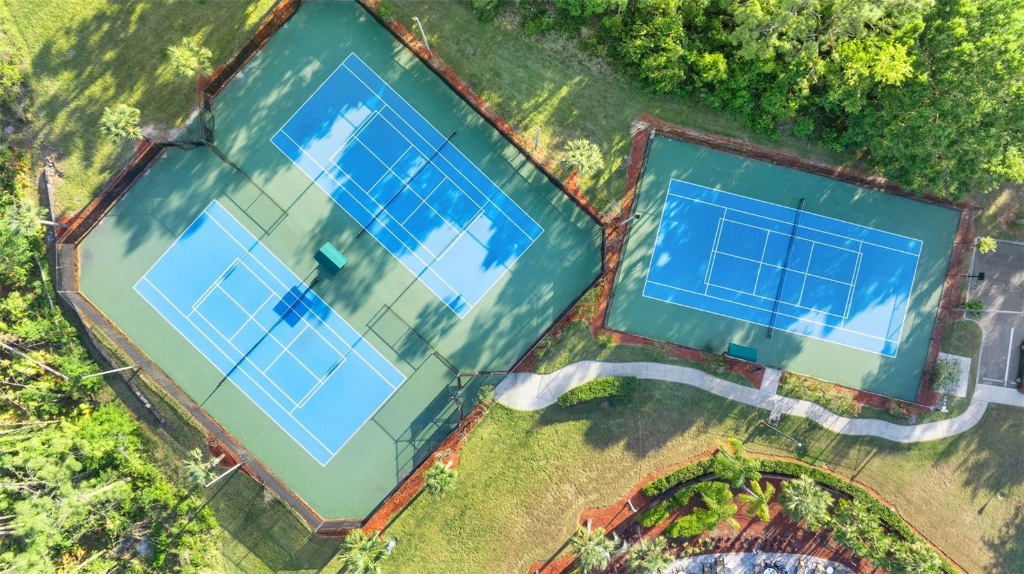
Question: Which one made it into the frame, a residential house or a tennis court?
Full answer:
Looking from above, you can make out a tennis court.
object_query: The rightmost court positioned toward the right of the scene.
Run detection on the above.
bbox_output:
[605,134,962,403]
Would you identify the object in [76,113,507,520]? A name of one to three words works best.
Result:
tennis court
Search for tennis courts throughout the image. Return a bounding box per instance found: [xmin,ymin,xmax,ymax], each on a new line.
[76,113,507,520]
[213,0,604,373]
[605,134,962,403]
